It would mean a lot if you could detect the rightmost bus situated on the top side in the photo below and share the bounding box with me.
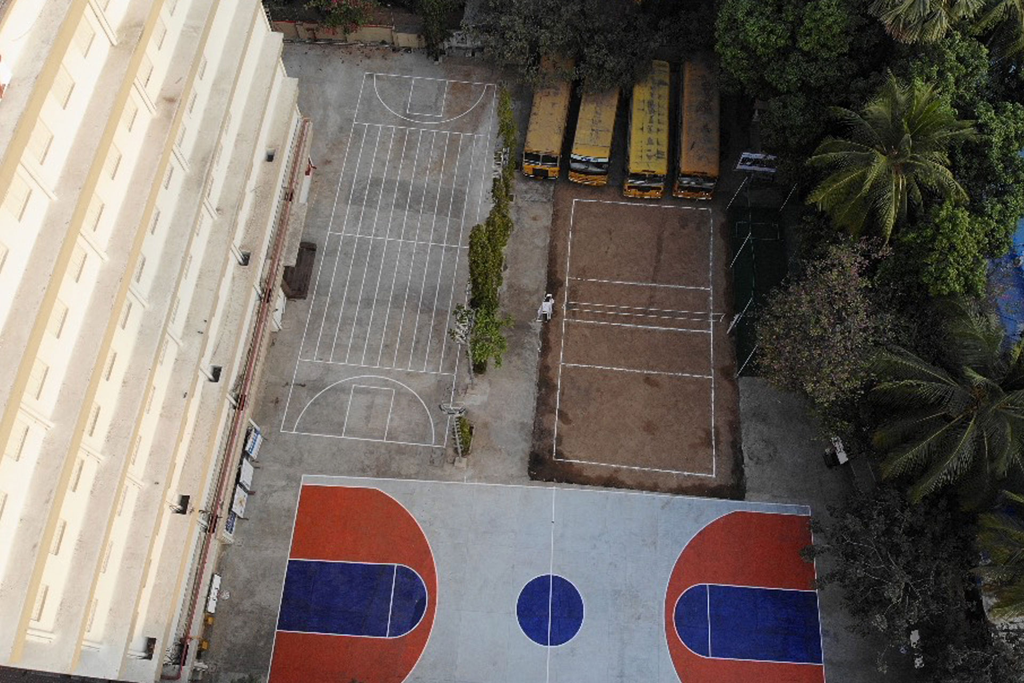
[671,63,720,207]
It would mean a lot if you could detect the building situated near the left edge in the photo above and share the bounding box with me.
[0,0,315,683]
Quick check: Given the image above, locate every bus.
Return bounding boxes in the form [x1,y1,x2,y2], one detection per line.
[671,63,720,207]
[623,62,670,205]
[520,41,578,182]
[566,44,616,188]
